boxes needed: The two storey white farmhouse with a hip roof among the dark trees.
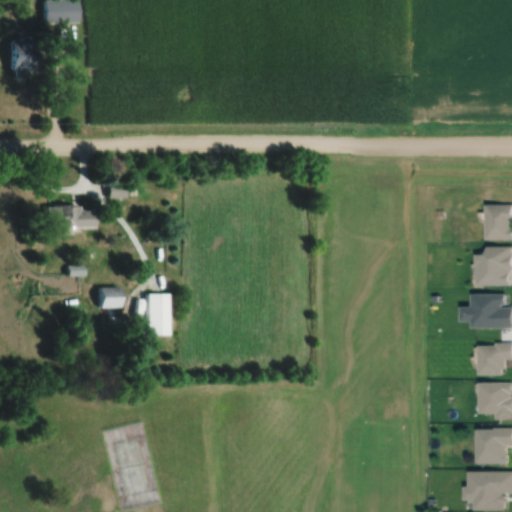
[13,42,38,80]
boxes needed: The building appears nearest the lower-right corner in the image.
[460,472,512,510]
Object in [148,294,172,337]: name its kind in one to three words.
building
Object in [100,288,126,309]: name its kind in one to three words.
barn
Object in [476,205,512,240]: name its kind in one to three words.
house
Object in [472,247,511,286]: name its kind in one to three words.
house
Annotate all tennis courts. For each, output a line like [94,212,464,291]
[104,422,162,510]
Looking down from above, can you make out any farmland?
Yes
